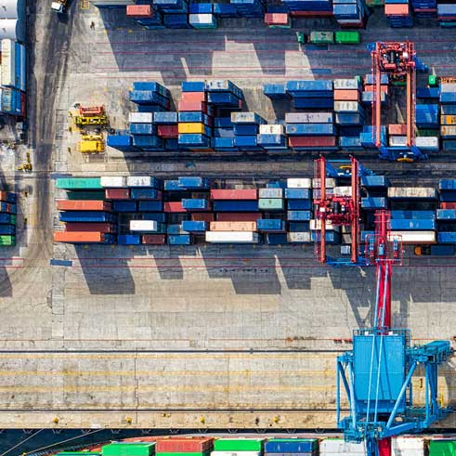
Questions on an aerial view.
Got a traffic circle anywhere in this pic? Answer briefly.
No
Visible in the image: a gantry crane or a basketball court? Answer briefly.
gantry crane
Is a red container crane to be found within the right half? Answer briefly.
Yes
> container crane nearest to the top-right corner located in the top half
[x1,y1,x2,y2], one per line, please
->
[372,40,429,166]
